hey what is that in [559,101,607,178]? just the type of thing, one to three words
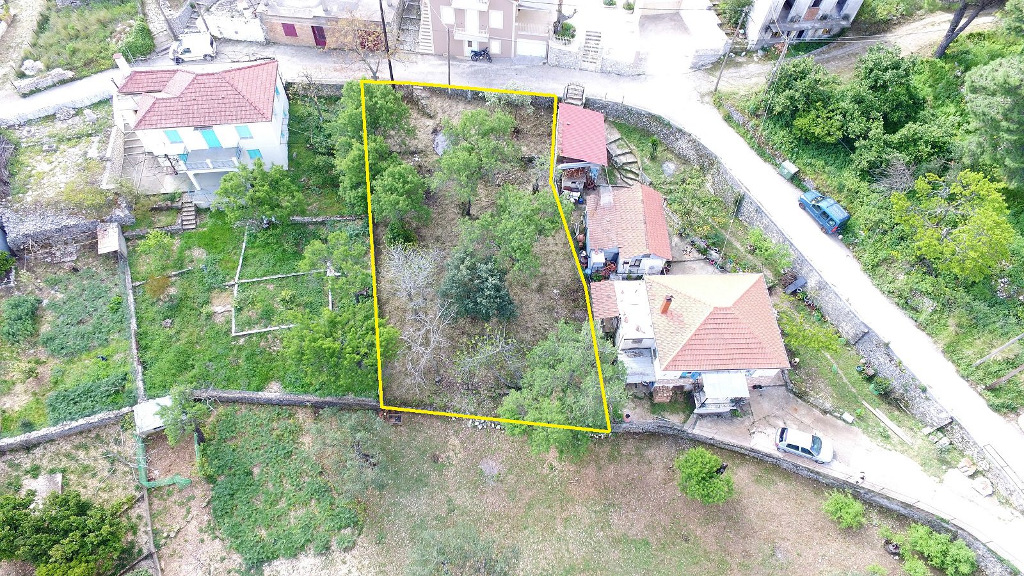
shed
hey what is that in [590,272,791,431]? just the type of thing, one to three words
house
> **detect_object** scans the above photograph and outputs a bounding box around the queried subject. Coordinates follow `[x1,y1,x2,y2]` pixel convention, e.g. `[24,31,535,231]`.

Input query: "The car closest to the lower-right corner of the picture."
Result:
[776,426,837,463]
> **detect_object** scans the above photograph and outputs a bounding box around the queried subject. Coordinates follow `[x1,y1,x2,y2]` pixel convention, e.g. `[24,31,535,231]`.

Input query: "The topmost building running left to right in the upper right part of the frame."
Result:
[748,0,870,49]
